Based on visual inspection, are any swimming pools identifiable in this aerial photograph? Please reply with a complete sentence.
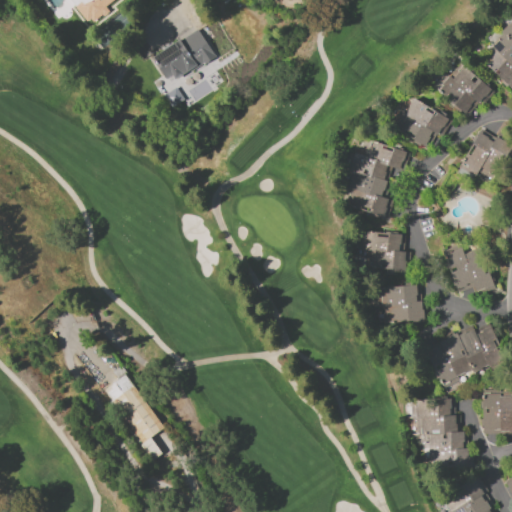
Yes, looking at the shot, I can spot a swimming pool.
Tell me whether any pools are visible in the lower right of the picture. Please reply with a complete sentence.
No, looking in the lower right of the picture, there is no pool.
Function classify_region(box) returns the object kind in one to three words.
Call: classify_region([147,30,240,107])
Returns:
house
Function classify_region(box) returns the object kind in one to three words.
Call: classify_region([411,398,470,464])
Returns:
building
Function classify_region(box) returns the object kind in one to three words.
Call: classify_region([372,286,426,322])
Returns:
building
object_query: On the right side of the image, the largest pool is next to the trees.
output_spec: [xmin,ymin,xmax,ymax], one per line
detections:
[441,190,491,234]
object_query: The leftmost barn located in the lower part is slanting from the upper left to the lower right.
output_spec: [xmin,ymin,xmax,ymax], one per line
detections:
[106,376,164,458]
